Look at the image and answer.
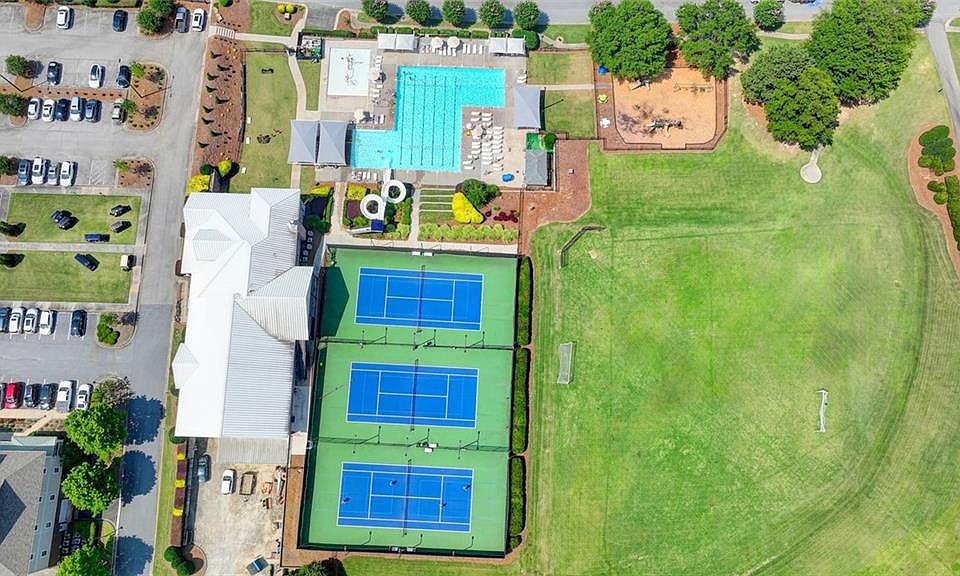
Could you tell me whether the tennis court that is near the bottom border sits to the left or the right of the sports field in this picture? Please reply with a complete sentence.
Compared with the sports field, the tennis court that is near the bottom border is located further to the left.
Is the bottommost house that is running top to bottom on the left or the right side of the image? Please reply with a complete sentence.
The bottommost house that is running top to bottom appears in the left half of the scene.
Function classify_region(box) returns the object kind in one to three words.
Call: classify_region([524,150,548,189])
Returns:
building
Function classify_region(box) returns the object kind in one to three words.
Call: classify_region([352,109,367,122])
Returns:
umbrella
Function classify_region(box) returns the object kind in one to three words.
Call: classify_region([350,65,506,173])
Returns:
swimming pool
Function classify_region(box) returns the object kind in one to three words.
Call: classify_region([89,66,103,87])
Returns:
car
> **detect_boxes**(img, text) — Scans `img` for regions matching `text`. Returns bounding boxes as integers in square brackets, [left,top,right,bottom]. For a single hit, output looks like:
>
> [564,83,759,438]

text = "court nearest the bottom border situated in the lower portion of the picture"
[301,442,508,555]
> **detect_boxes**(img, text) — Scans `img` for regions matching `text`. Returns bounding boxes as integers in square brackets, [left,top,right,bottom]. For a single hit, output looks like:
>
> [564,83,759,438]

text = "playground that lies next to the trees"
[597,66,728,149]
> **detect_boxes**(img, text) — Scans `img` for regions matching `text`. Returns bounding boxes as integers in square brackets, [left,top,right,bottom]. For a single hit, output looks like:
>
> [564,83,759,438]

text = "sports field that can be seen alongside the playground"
[540,196,928,576]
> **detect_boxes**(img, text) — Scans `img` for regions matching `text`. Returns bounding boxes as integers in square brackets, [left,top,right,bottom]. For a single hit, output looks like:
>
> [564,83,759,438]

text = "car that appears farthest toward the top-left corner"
[56,7,71,29]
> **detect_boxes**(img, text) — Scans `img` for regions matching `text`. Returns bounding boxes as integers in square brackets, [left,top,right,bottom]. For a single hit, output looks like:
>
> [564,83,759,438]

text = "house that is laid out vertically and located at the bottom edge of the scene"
[0,432,63,576]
